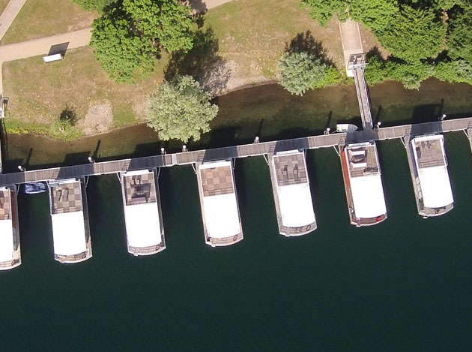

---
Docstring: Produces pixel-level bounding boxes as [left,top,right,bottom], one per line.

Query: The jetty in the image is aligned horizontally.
[0,117,472,197]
